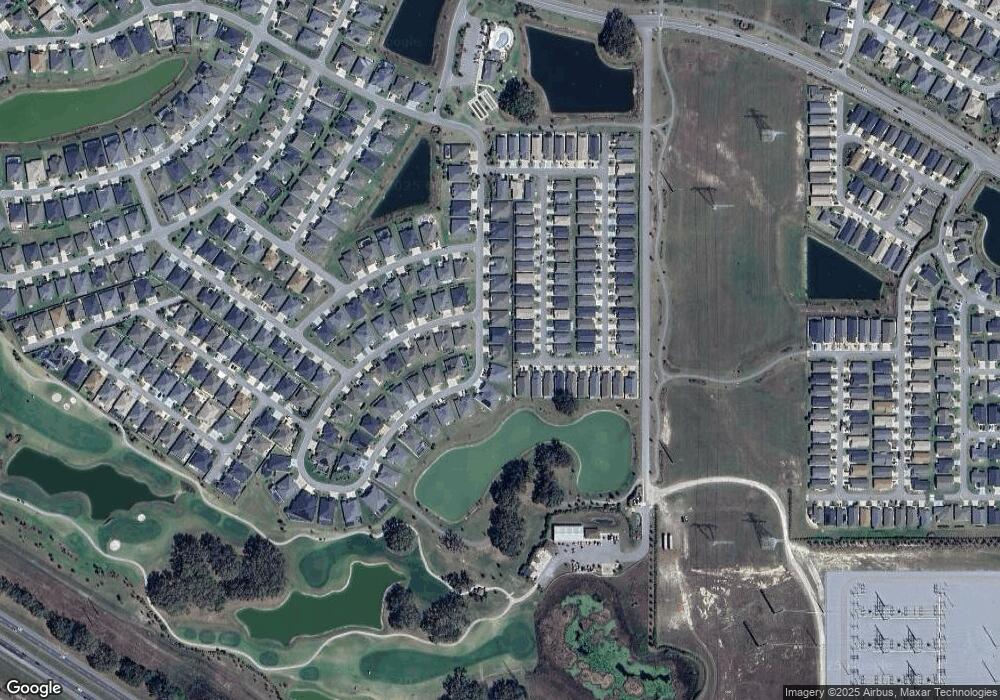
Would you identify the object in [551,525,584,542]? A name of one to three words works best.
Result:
shed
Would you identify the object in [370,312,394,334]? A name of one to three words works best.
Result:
house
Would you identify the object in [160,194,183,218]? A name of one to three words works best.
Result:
house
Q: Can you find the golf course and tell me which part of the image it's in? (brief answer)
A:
bottom left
